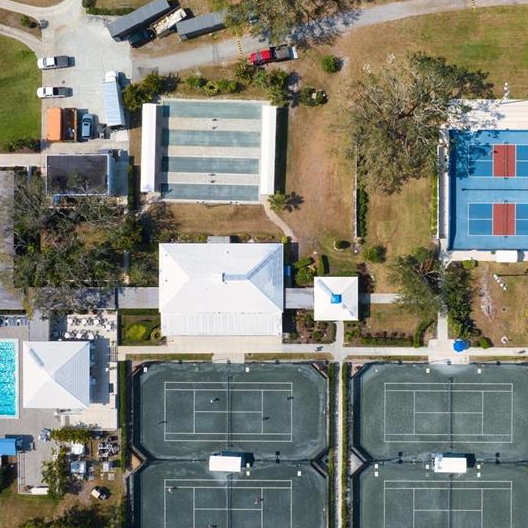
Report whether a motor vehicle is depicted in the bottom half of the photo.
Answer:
No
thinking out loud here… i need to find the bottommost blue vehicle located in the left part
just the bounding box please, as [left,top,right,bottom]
[81,114,94,140]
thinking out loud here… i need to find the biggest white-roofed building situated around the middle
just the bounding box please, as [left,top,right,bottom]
[158,235,284,336]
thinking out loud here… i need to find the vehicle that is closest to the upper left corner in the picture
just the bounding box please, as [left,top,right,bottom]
[38,55,72,69]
